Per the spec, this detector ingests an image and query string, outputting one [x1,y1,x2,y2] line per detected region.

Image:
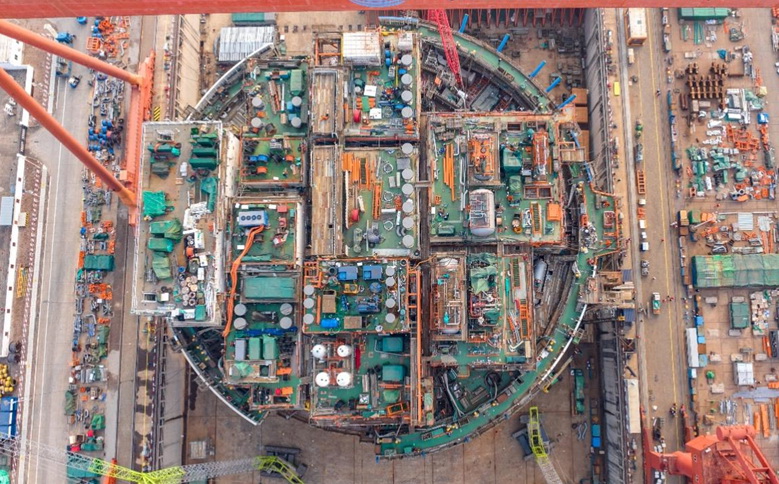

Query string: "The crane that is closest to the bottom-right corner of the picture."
[641,397,770,484]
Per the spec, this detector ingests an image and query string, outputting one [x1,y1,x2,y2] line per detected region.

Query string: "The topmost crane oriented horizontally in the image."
[0,0,779,221]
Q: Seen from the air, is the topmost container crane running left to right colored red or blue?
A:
red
